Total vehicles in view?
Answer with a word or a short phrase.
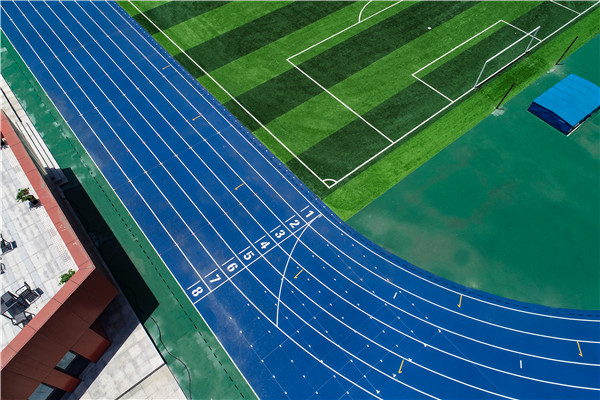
none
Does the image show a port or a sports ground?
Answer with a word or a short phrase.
sports ground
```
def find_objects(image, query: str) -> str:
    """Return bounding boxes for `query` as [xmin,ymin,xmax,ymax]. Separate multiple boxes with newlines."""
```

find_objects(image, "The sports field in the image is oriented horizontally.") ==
[115,0,600,220]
